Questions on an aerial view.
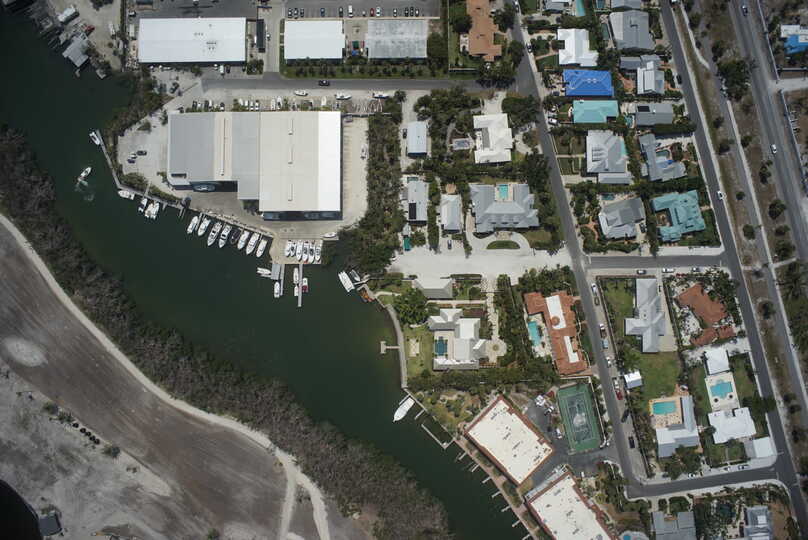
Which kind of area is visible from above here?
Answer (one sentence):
This image shows a residential area.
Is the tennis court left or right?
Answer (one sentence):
The tennis court sits on the right side.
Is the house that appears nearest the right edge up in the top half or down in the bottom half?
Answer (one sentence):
You can find the house that appears nearest the right edge in the top half.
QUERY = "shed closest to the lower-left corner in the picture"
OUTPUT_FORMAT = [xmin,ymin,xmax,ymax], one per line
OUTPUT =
[39,511,62,534]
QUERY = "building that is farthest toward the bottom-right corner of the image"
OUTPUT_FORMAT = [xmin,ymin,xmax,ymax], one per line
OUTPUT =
[743,505,772,540]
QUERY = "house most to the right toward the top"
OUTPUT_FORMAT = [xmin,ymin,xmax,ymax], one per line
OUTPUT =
[780,25,808,54]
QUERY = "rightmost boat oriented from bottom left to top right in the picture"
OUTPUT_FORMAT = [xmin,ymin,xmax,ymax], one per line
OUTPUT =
[393,396,417,422]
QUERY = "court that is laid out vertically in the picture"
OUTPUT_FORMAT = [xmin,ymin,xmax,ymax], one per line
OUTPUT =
[559,384,600,452]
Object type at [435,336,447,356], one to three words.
swimming pool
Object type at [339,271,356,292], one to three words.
boat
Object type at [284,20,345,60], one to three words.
building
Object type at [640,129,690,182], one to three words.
house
